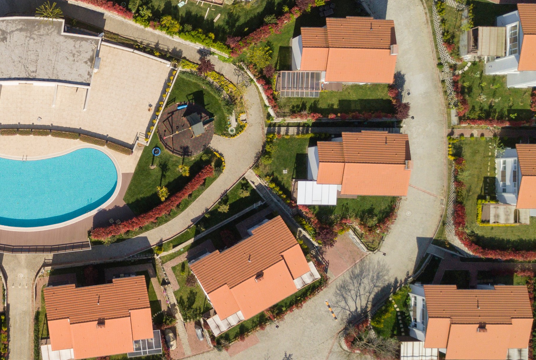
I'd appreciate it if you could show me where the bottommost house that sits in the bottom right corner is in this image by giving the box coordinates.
[408,274,534,358]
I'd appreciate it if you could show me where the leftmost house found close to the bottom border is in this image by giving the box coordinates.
[44,266,153,357]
